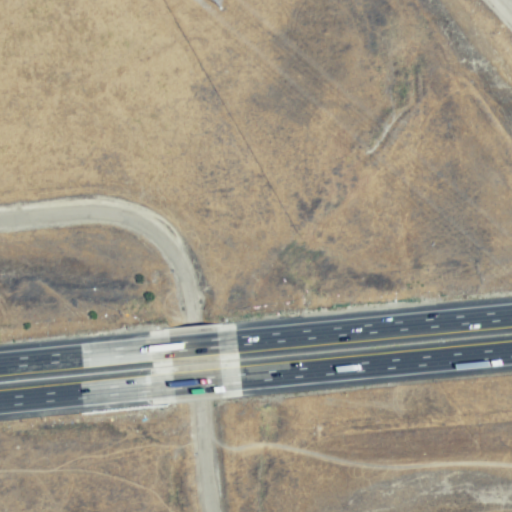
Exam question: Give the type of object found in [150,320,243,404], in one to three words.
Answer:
overpass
